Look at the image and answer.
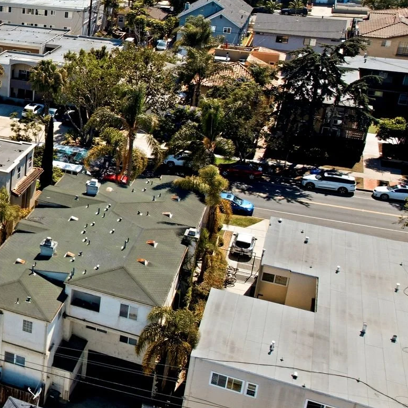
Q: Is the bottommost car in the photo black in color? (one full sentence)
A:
No, the color of the bottommost car is white.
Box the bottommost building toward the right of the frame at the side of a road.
[184,216,408,408]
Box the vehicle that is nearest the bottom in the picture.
[230,228,257,254]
